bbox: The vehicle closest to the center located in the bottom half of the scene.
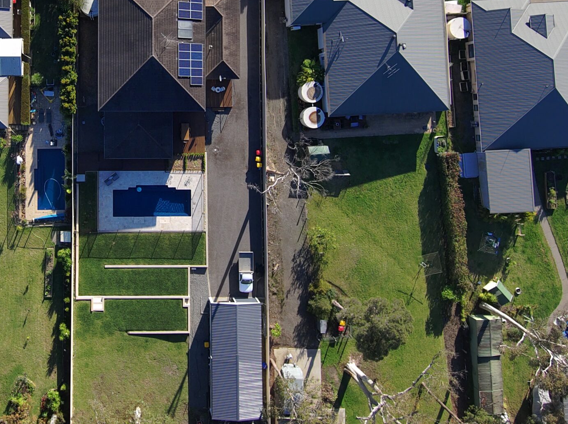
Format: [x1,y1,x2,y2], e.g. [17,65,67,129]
[237,250,255,292]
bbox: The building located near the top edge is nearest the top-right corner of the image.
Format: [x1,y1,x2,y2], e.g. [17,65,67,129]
[465,0,568,152]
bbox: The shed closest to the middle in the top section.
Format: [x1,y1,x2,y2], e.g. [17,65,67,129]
[305,145,330,162]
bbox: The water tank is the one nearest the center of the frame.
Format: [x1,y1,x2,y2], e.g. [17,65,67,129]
[297,104,324,130]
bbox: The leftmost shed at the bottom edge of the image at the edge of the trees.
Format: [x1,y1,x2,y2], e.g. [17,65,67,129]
[209,297,263,422]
